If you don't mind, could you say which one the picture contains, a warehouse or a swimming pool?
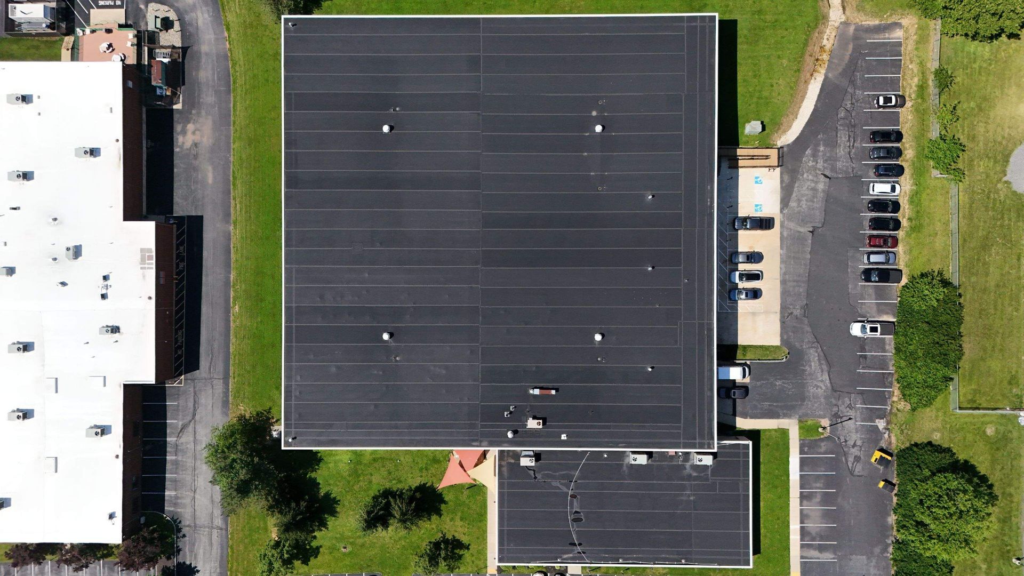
warehouse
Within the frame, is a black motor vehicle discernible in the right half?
Yes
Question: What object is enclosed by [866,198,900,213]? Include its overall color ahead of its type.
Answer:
black car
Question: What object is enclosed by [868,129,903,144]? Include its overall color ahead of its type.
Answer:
black car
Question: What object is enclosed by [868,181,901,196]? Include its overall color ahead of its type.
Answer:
white car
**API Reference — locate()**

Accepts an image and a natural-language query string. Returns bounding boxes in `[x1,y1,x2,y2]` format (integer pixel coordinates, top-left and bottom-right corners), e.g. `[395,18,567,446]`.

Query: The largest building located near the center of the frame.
[282,13,717,450]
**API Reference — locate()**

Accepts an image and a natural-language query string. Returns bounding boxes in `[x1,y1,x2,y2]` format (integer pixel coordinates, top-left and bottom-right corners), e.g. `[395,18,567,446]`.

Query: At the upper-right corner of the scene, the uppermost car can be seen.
[873,93,905,109]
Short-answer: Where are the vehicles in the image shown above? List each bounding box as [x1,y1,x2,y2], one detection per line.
[859,267,905,284]
[866,198,900,213]
[867,216,901,231]
[868,146,902,161]
[729,268,764,284]
[728,287,764,302]
[868,129,903,144]
[848,320,897,337]
[872,162,905,178]
[552,570,564,576]
[868,181,901,196]
[732,214,776,231]
[865,234,899,249]
[717,385,749,400]
[873,93,905,109]
[715,364,750,381]
[862,250,896,266]
[730,250,764,265]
